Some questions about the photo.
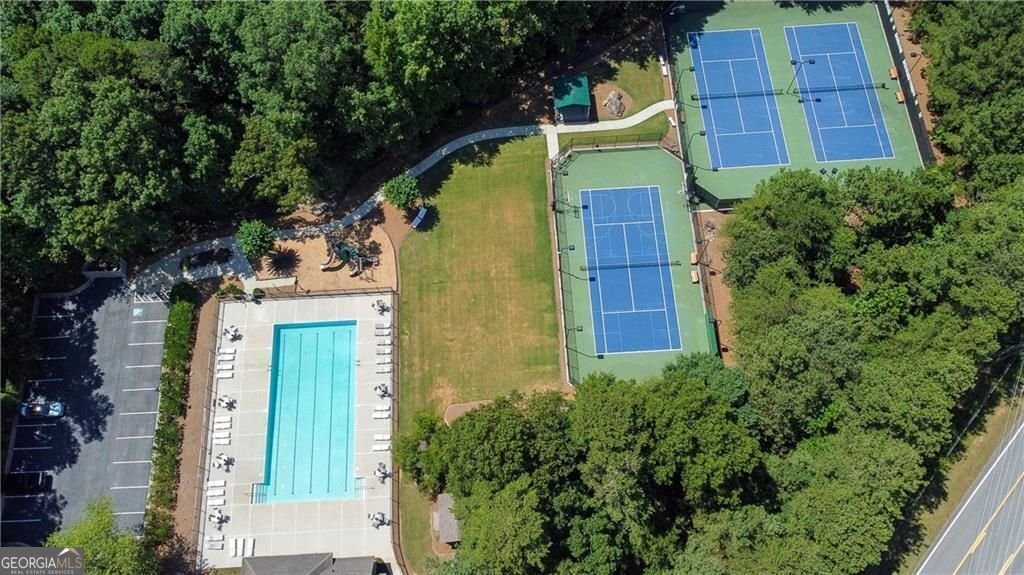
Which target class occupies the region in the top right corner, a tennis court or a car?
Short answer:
tennis court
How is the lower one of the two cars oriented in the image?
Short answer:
from side to side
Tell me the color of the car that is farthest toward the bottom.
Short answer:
black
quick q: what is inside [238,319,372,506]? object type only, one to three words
swimming pool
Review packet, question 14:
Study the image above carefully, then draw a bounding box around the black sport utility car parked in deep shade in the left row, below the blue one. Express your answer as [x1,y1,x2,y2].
[2,471,50,492]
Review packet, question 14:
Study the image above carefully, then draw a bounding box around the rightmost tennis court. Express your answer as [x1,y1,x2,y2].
[770,0,924,189]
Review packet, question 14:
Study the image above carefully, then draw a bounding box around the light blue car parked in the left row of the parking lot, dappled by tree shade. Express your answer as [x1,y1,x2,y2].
[19,400,62,419]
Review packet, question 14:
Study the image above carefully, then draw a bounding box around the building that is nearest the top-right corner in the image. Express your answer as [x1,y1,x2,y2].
[555,75,593,123]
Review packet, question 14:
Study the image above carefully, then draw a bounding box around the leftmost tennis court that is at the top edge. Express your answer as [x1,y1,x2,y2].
[666,0,810,192]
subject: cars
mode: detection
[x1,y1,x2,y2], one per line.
[2,471,50,492]
[19,400,62,419]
